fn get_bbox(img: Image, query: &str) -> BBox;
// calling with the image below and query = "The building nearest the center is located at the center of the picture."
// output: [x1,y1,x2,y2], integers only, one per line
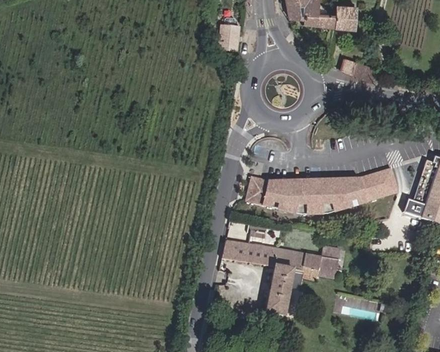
[246,174,266,204]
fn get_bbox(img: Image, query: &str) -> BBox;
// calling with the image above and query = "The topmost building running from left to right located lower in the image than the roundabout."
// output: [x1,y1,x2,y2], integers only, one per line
[263,168,398,214]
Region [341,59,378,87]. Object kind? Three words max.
building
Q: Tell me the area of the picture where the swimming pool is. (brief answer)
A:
bottom right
